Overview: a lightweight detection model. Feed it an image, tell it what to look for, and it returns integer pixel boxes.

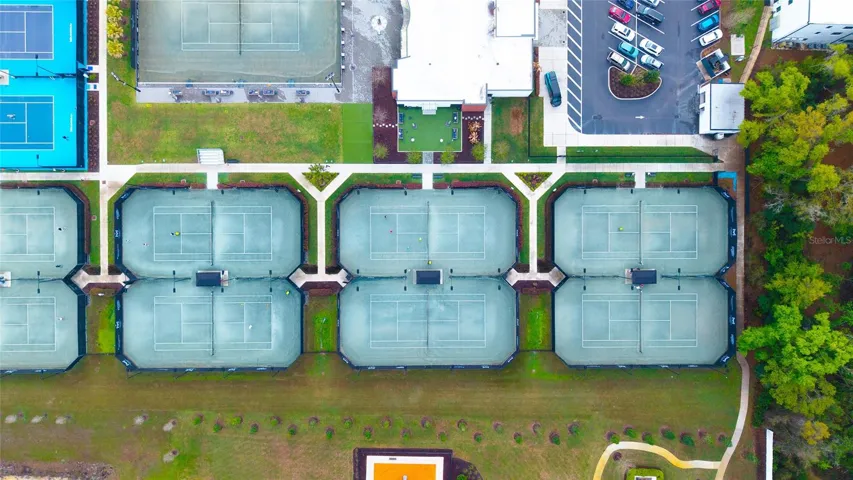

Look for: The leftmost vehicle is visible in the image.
[546,71,562,106]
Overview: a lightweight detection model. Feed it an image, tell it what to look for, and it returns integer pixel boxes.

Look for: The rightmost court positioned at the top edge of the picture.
[138,0,341,82]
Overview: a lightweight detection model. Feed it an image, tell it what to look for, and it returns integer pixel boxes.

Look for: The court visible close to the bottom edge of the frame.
[367,456,444,480]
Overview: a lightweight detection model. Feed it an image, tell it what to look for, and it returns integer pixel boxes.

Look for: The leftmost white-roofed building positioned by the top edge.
[393,0,539,118]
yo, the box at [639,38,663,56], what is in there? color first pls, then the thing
white car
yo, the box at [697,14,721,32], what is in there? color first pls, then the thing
blue car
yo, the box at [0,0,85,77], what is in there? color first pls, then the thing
blue tennis court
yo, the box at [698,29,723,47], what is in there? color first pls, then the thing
white car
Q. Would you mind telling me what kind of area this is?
sports ground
